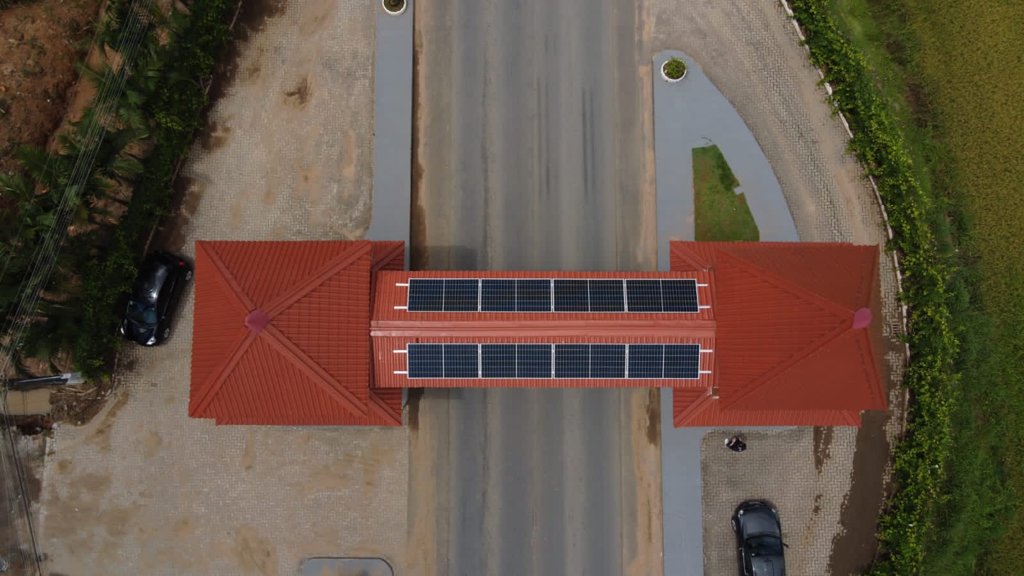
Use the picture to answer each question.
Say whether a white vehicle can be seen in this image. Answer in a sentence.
No, no white vehicle is visible in the view.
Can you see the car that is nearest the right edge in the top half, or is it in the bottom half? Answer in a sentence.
The car that is nearest the right edge sits in the bottom half of the picture.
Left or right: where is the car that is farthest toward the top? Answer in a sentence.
It is on the left.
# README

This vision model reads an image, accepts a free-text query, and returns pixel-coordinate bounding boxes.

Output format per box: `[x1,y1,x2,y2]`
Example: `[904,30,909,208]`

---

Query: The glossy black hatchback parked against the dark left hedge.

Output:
[115,247,189,349]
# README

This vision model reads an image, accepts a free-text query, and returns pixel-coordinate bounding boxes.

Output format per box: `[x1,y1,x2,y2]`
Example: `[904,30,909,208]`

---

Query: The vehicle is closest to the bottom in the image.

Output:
[734,502,794,576]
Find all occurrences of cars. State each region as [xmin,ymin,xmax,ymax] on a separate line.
[734,502,794,576]
[115,247,189,349]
